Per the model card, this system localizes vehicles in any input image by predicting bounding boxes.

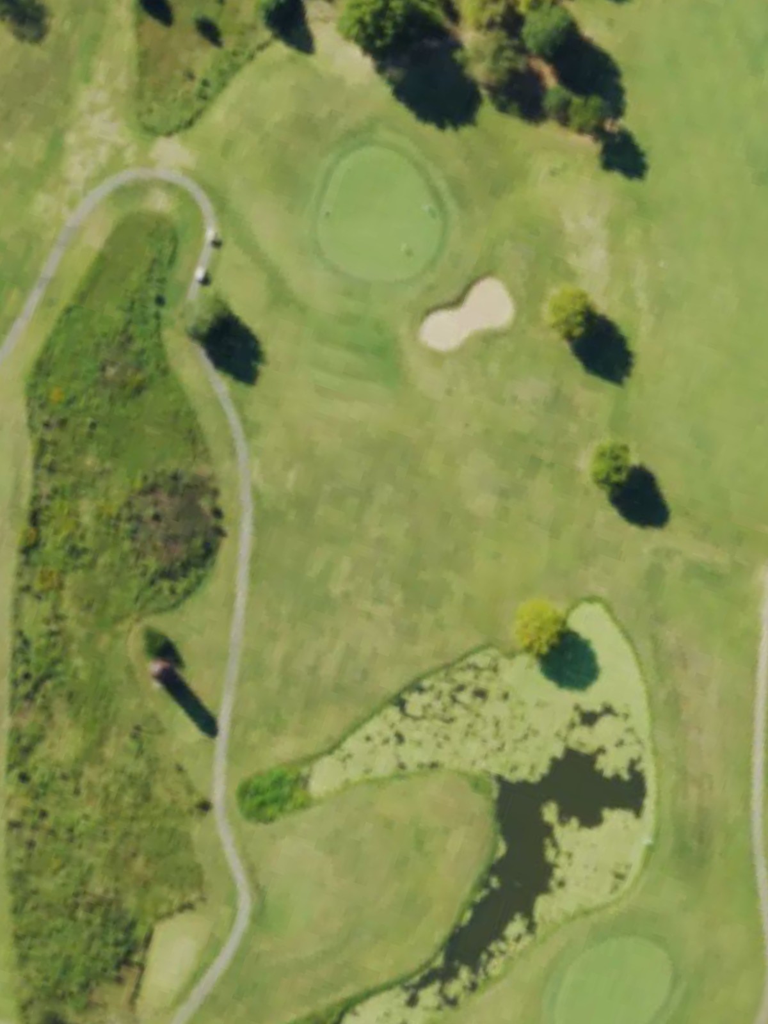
[195,267,205,281]
[206,230,214,244]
